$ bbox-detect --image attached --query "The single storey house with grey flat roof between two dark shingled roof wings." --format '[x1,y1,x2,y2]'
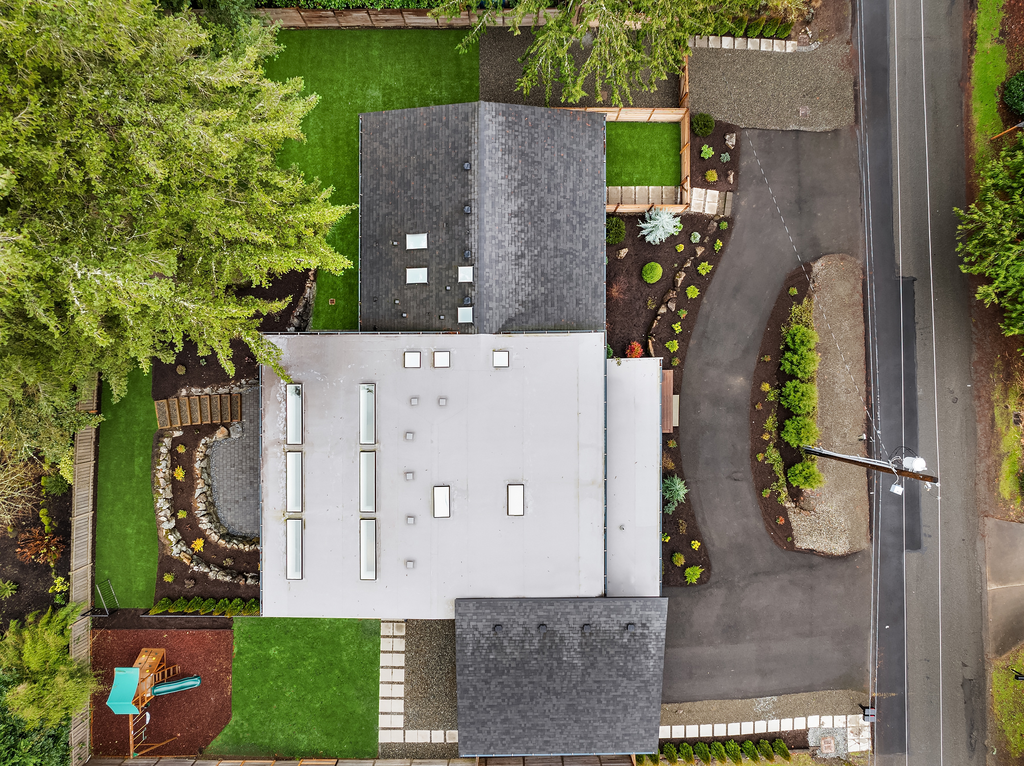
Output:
[259,101,668,759]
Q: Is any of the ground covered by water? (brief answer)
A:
No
